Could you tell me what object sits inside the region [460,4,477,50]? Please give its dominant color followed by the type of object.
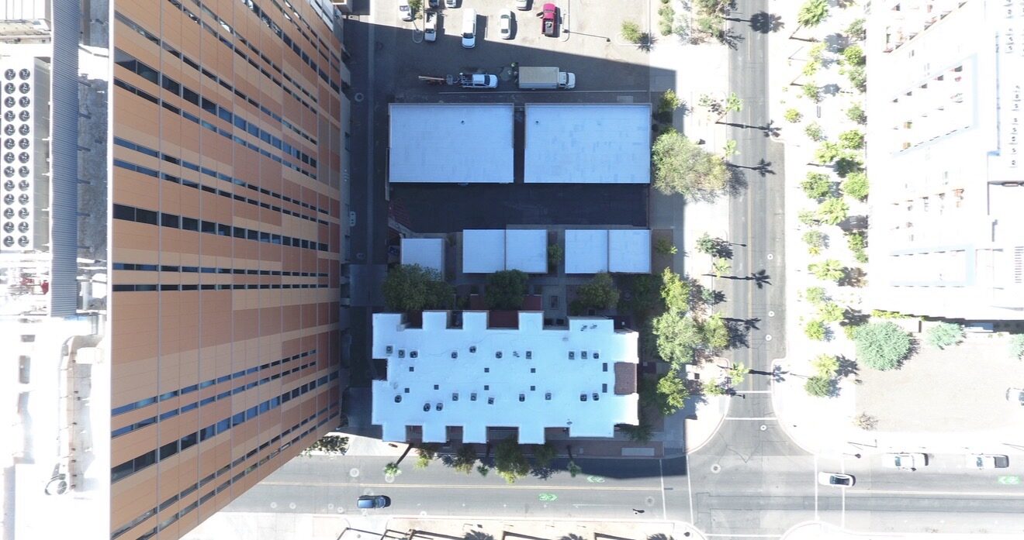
white vehicle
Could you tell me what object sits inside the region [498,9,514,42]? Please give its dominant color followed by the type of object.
white car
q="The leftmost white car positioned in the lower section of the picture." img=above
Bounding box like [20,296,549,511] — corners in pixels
[817,470,856,488]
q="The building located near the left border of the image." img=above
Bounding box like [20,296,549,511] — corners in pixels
[0,0,341,540]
